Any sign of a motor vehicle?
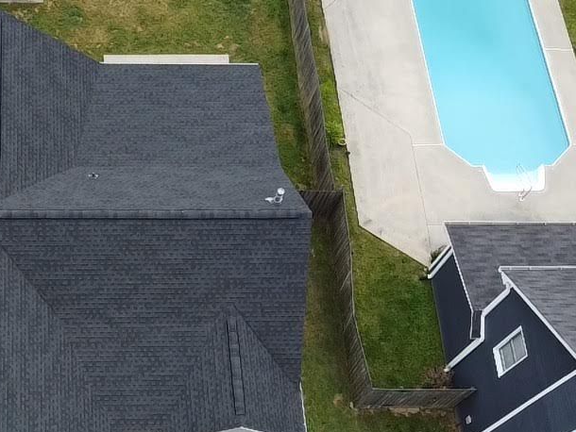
No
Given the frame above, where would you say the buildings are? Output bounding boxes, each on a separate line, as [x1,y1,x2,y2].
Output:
[428,220,576,432]
[0,15,309,432]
